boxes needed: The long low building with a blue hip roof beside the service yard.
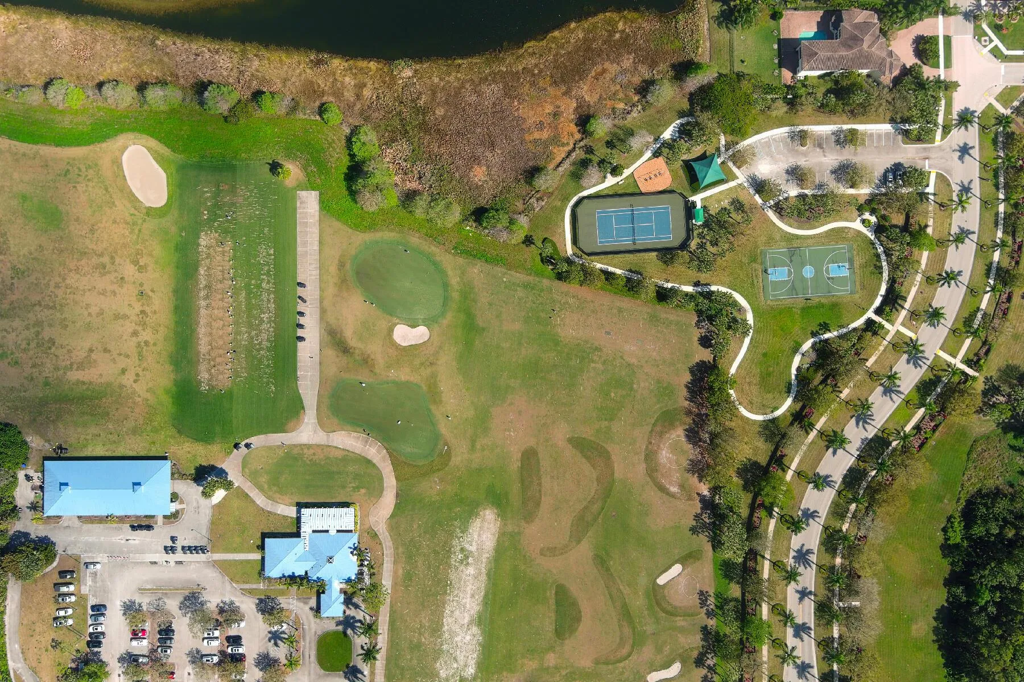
[44,460,178,516]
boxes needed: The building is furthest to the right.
[795,10,904,87]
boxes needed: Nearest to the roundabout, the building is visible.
[265,507,358,617]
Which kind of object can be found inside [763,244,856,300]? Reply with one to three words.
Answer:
basketball court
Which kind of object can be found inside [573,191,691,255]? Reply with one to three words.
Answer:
tennis court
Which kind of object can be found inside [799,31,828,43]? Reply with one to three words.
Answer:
swimming pool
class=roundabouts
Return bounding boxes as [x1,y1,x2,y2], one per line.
[316,629,353,673]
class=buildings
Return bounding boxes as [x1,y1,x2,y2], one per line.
[265,507,358,617]
[795,10,904,87]
[44,460,178,516]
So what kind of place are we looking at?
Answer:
golf course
